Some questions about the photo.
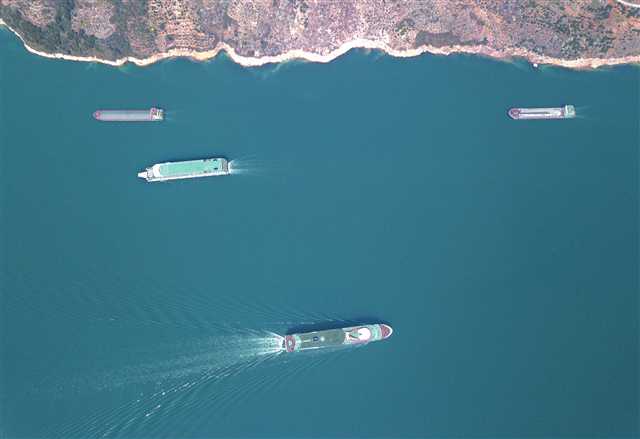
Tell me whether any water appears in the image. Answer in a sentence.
Yes, there is water in the image.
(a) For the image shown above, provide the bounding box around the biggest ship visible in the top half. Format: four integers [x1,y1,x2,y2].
[138,159,231,182]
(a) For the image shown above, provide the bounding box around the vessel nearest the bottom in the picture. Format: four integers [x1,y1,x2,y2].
[284,323,392,352]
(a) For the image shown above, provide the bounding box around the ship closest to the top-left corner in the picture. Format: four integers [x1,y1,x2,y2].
[93,109,164,121]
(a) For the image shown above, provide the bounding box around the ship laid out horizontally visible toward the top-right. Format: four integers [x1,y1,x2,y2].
[507,106,576,119]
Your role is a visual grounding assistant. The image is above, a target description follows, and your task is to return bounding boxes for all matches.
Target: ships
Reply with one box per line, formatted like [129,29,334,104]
[138,159,231,182]
[93,109,164,121]
[284,323,392,352]
[507,106,576,119]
